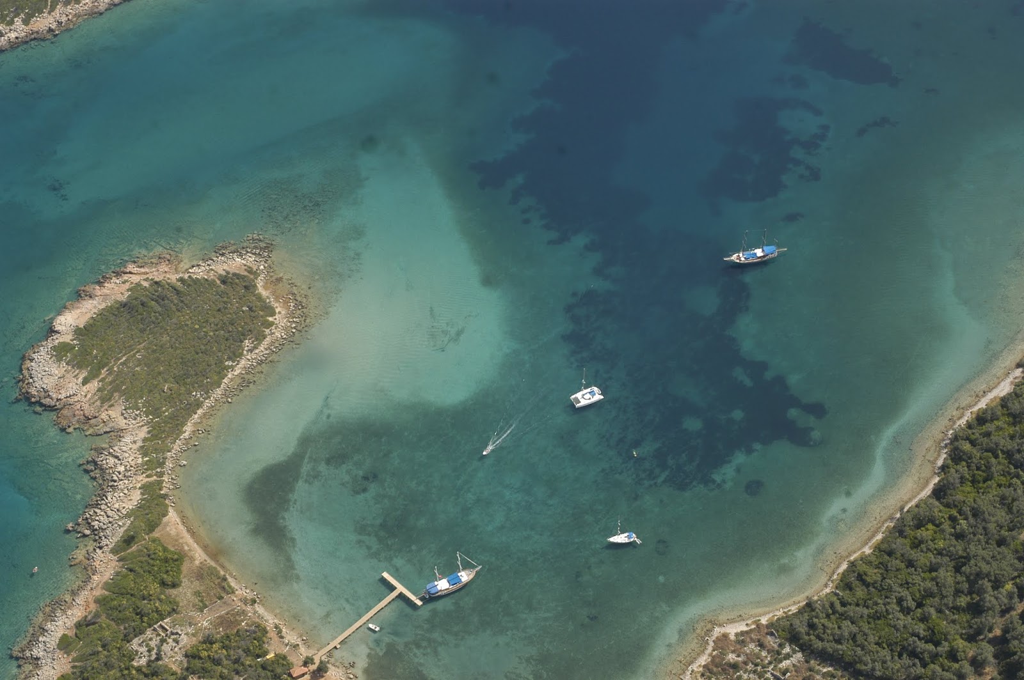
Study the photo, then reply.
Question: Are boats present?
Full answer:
Yes, there is a boat in the image.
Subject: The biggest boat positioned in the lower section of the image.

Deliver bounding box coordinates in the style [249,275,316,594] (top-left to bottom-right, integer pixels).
[413,555,483,603]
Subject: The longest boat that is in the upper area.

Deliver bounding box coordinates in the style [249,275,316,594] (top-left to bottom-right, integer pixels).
[725,228,788,262]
